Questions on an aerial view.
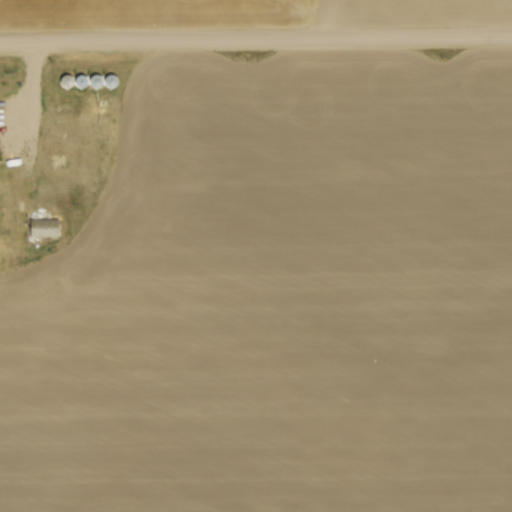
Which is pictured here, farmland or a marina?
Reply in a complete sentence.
This image shows farmland.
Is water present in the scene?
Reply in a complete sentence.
No, the picture contains no water.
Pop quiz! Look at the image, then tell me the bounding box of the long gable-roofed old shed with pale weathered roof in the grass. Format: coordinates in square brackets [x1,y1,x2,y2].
[30,219,60,240]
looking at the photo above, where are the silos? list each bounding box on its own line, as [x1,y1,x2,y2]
[60,75,74,91]
[90,75,104,90]
[75,75,90,90]
[104,75,119,91]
